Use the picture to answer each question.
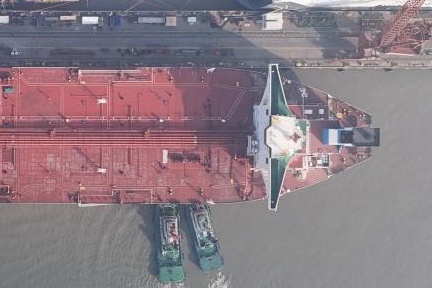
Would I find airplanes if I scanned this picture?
No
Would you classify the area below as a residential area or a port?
port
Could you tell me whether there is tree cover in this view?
No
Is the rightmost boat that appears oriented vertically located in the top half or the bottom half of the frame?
bottom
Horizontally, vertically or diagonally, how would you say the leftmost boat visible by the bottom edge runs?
vertically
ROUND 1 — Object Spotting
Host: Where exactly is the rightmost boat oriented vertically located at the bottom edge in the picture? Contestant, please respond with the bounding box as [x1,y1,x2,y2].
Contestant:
[185,203,223,274]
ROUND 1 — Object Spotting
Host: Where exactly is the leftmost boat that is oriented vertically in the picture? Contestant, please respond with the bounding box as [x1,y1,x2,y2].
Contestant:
[152,204,184,284]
